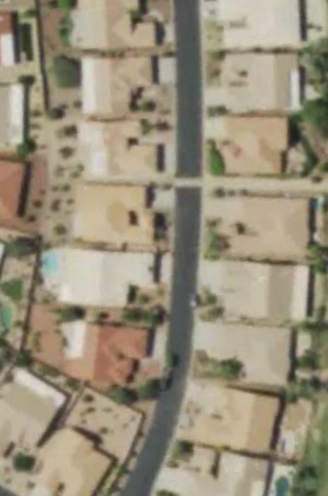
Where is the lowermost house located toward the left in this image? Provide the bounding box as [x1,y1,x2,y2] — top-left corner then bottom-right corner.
[37,433,117,496]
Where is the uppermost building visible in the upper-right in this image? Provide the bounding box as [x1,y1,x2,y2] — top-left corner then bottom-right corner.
[217,0,297,47]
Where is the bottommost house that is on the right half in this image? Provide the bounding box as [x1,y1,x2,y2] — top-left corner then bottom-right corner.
[182,448,266,496]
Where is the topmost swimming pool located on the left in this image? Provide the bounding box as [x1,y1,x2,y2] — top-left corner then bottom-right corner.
[41,251,59,278]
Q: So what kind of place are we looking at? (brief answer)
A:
residential area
